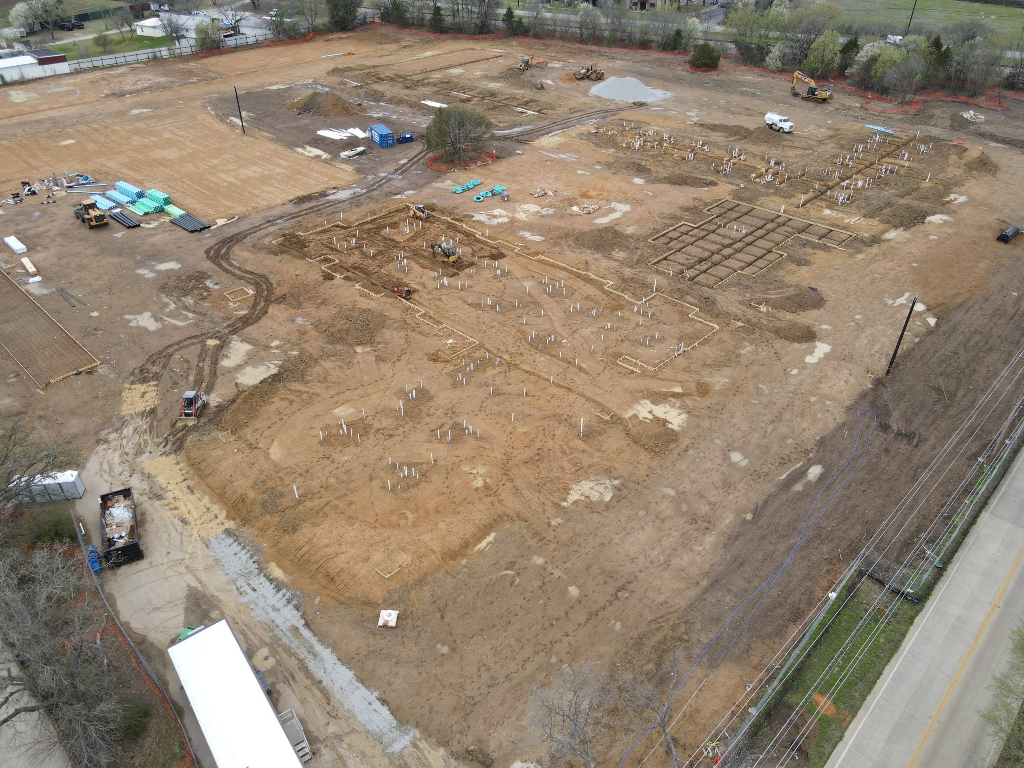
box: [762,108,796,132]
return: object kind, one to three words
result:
truck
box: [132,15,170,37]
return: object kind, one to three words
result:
house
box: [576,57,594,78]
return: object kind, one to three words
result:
work vehicle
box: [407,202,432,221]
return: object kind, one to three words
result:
work vehicle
